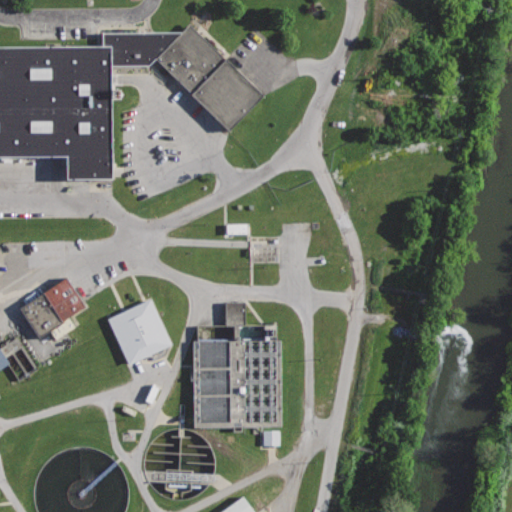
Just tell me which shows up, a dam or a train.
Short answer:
dam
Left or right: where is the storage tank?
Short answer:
left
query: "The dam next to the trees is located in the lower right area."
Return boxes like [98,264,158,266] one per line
[424,322,475,446]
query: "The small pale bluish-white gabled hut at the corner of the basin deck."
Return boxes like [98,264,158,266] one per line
[263,430,282,448]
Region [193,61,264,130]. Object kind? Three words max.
building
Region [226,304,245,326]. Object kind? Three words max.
building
